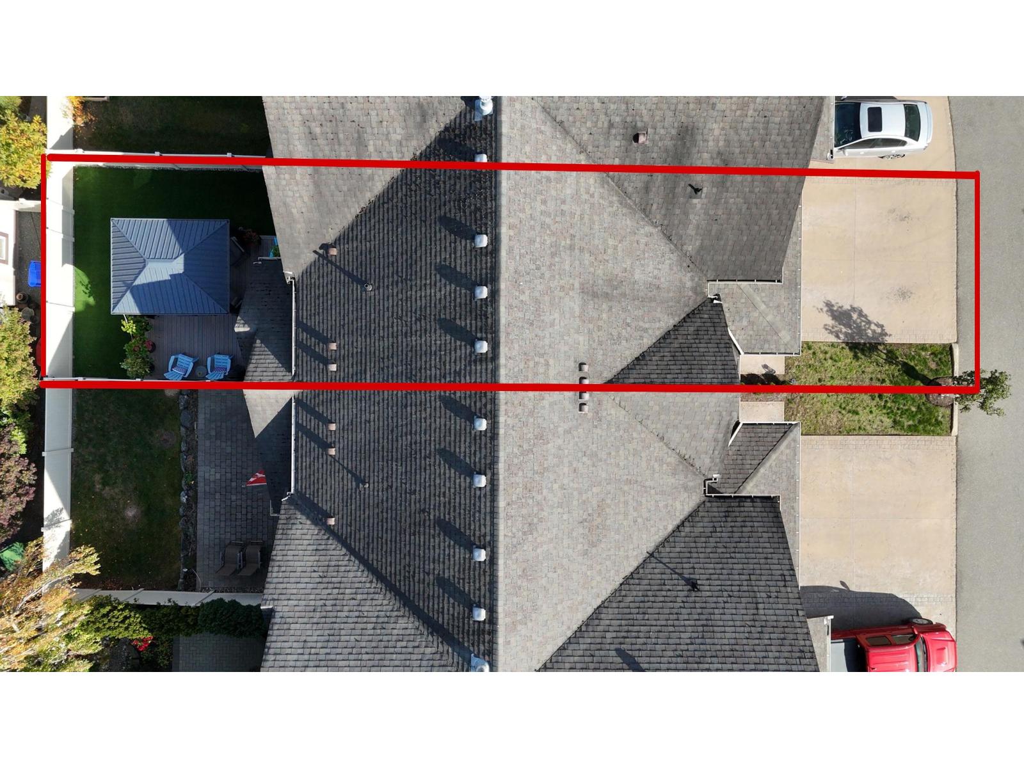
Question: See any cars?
Yes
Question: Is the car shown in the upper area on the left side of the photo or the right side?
right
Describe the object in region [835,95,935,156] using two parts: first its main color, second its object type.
white car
